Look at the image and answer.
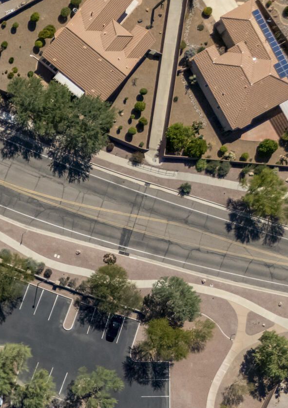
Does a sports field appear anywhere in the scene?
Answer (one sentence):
No, the photo shows no sports field.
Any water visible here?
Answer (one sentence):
No, no water is visible.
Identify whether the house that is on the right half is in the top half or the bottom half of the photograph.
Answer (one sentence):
The house that is on the right half sits in the top half of the picture.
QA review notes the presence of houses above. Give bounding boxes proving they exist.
[39,0,156,99]
[186,0,288,139]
